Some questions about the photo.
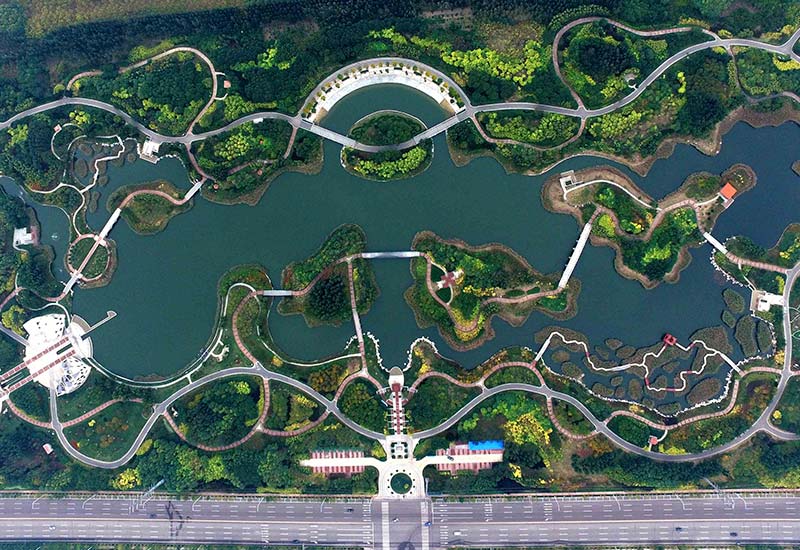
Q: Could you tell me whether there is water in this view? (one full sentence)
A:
Yes, there is water in the image.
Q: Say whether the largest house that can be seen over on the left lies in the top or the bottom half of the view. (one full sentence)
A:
The largest house that can be seen over on the left sits in the top half of the picture.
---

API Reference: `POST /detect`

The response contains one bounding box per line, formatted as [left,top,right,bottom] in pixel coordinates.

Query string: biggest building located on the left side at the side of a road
[140,141,162,164]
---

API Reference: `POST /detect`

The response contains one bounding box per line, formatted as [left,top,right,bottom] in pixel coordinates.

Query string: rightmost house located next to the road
[750,290,784,311]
